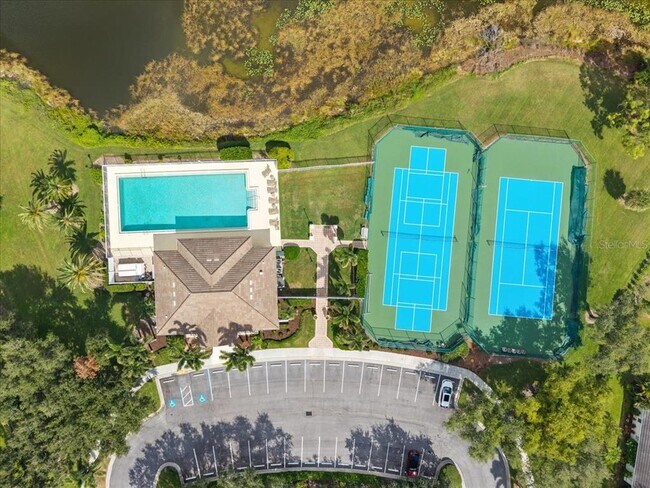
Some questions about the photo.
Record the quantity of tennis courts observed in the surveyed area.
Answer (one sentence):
In total, 2 tennis courts can be seen.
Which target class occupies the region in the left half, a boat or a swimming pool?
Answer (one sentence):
Visible in the left half is a swimming pool.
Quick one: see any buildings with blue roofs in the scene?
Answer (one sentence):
No, there is no building with a blue roof in the image.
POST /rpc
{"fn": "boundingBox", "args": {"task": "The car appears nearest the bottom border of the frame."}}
[406,450,420,478]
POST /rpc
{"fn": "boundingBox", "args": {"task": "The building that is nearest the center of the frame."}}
[154,237,278,349]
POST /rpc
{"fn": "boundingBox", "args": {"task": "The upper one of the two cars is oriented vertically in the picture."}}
[440,379,454,408]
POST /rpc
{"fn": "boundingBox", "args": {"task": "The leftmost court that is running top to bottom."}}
[365,126,481,346]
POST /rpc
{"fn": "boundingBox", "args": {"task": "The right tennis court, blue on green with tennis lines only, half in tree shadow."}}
[465,136,585,355]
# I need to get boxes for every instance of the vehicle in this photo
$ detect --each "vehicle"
[440,379,454,408]
[406,450,420,478]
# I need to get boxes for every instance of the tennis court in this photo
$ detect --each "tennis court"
[465,136,585,355]
[365,126,481,346]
